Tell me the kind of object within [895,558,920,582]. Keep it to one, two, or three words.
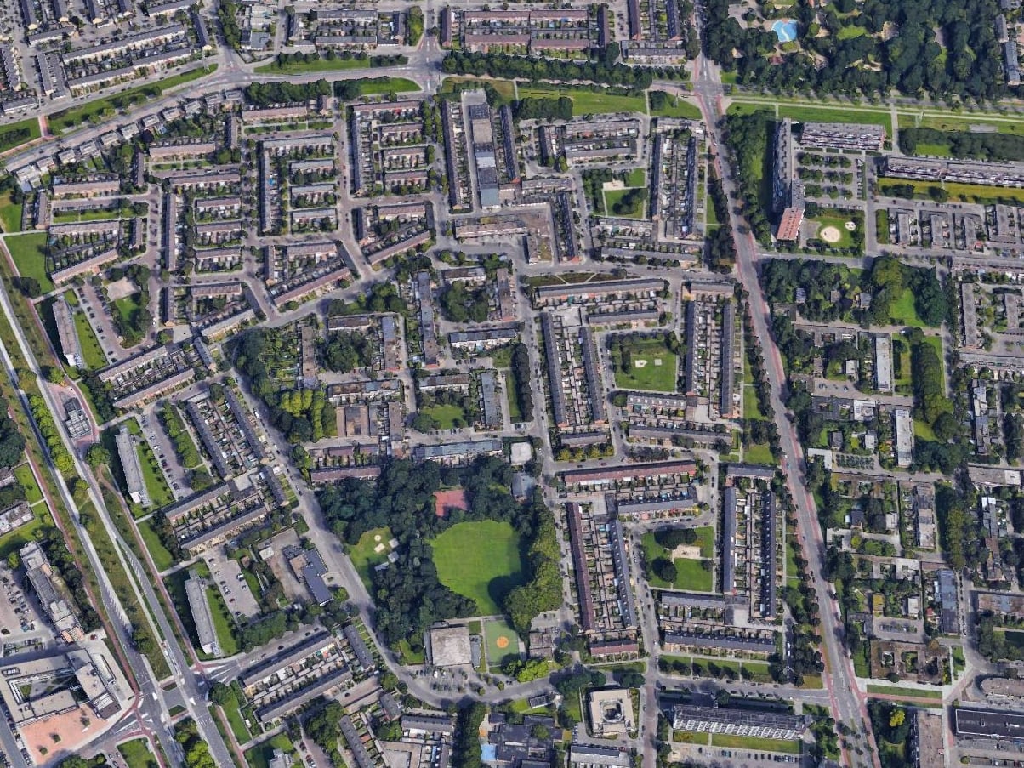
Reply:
house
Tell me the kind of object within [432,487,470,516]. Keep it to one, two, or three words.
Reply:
sports court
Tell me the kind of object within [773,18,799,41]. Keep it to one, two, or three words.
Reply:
swimming pool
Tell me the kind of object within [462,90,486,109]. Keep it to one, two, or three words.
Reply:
building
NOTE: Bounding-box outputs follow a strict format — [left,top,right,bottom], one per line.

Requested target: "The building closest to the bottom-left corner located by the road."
[0,649,124,725]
